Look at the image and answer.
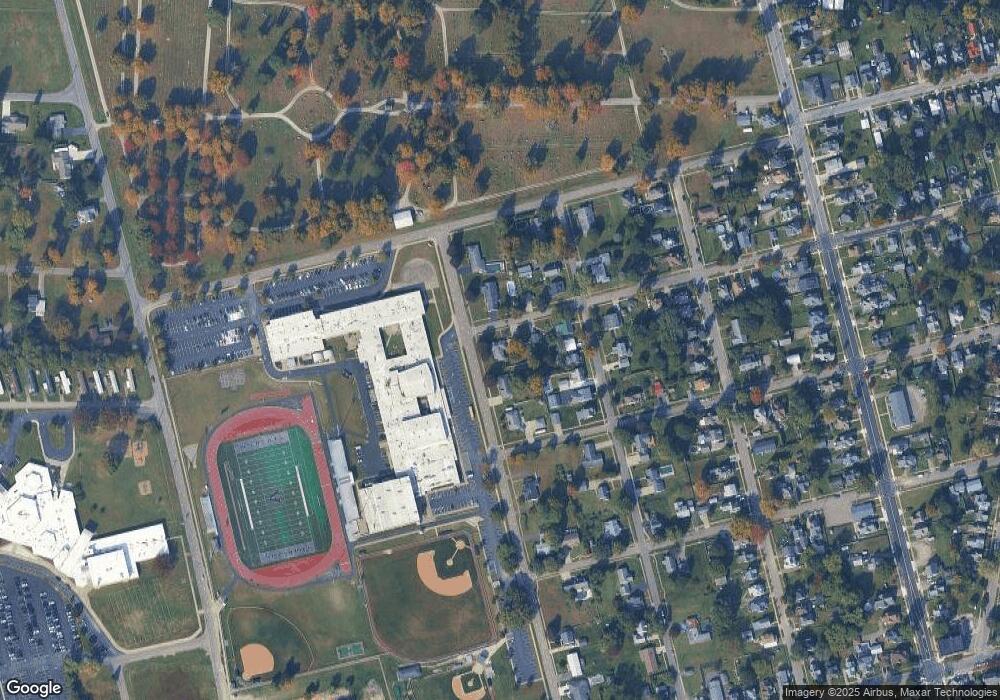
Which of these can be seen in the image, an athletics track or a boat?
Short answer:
athletics track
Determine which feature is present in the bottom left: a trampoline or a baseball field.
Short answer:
baseball field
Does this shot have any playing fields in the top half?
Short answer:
No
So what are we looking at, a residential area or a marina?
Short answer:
residential area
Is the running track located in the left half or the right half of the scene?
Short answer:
left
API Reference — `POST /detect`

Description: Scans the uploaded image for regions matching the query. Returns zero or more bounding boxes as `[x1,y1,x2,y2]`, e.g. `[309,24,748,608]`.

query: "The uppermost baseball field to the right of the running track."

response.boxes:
[364,529,496,660]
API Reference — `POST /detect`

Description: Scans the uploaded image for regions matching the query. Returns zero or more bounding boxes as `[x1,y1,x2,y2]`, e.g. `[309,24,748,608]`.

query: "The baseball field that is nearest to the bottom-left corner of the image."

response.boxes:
[228,606,314,689]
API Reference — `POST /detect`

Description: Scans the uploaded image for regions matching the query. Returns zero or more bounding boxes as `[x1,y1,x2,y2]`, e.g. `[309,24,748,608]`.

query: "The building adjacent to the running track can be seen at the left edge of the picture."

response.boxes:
[0,462,169,589]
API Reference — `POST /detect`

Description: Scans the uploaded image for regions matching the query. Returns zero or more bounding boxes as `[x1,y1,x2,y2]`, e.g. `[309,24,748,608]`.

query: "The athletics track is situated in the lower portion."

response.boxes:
[200,388,353,594]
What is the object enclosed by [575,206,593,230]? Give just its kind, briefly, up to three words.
house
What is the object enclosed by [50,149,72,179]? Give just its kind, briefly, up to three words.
house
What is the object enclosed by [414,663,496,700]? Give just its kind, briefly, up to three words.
baseball field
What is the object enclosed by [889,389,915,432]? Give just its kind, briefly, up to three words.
building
